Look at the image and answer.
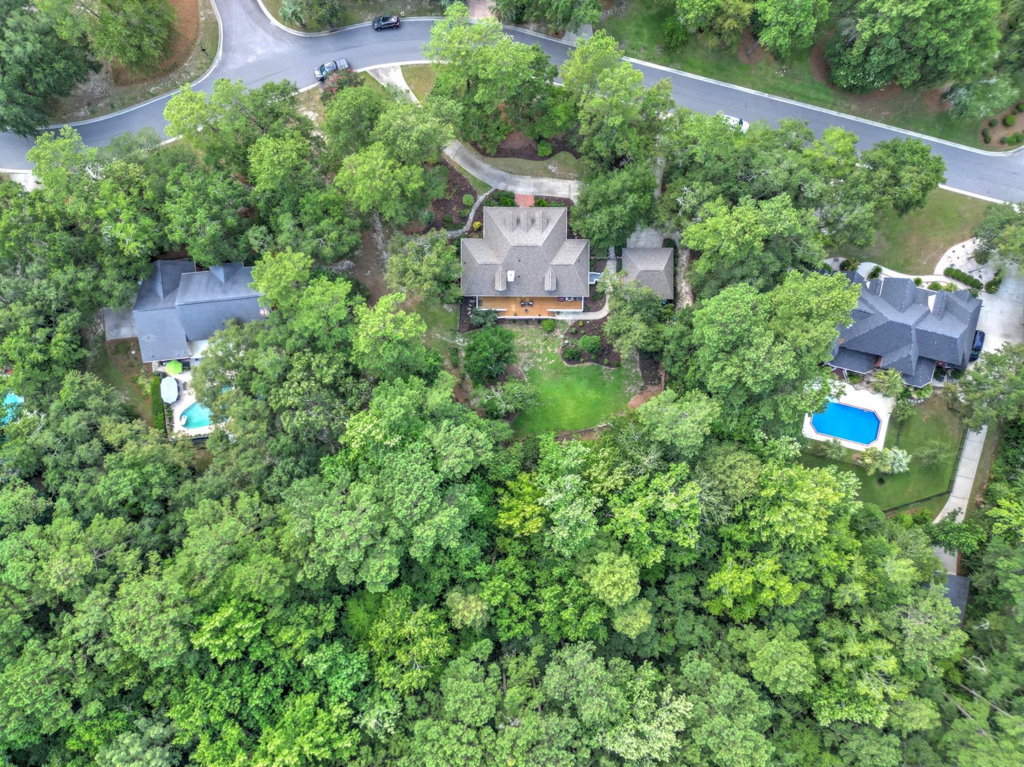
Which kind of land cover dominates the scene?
trees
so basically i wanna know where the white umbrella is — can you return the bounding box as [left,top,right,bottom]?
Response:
[162,376,180,404]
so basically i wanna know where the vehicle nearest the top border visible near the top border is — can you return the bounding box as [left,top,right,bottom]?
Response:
[373,12,401,30]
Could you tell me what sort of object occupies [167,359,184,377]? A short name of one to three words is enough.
umbrella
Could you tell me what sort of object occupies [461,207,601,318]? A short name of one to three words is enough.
house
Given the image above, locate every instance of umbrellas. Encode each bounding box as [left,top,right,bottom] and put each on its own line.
[162,376,180,404]
[167,359,184,377]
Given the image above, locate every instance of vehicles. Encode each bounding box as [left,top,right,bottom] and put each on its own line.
[726,115,750,131]
[314,59,348,79]
[971,332,991,361]
[373,12,401,30]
